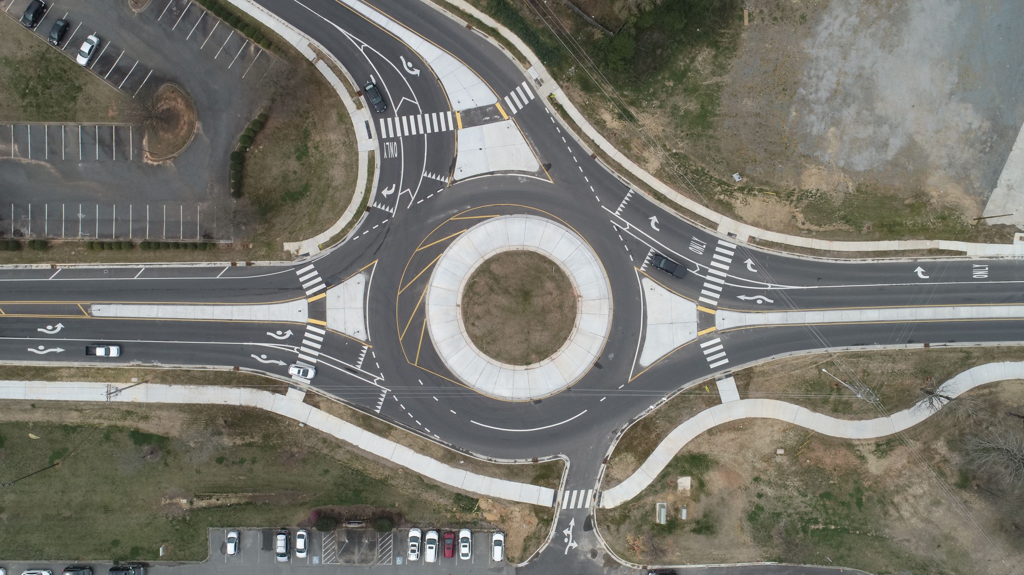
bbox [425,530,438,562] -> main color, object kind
white vehicle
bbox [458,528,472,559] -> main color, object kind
white car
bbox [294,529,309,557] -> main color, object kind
white car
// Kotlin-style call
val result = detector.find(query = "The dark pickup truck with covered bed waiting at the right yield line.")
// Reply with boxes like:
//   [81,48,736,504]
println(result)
[651,255,687,279]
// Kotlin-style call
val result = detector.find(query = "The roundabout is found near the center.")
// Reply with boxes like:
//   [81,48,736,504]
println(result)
[401,190,637,426]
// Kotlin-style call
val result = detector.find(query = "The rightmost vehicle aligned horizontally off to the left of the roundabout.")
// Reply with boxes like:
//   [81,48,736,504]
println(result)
[288,363,317,379]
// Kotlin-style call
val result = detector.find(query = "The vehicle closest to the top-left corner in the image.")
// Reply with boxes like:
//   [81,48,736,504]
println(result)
[21,0,46,28]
